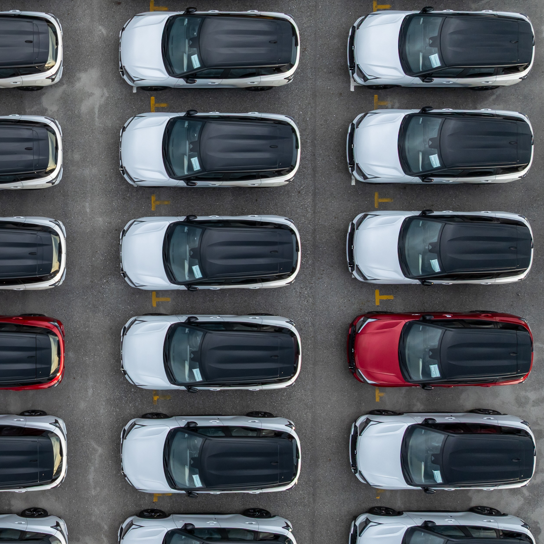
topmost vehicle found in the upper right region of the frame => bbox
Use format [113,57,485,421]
[347,2,536,92]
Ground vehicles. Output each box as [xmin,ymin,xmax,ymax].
[118,3,299,92]
[120,412,302,501]
[118,510,297,544]
[120,313,302,396]
[345,205,534,288]
[0,411,67,491]
[349,505,537,544]
[345,311,534,394]
[0,216,66,291]
[0,508,68,544]
[0,11,62,92]
[119,107,301,190]
[349,408,537,497]
[347,2,536,92]
[345,102,534,185]
[0,116,63,191]
[0,314,65,390]
[119,211,301,294]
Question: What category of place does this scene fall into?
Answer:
parking lot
